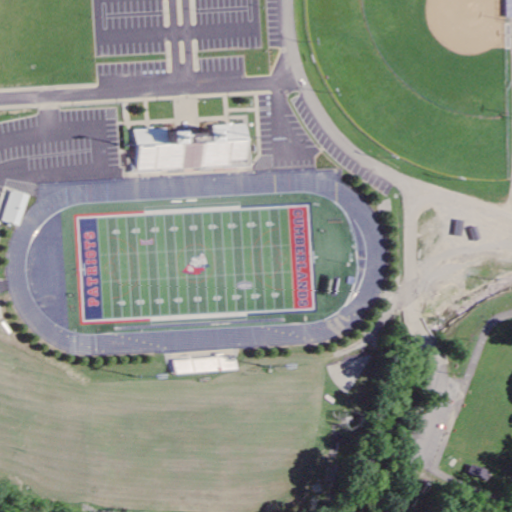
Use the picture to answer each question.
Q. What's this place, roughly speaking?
sports ground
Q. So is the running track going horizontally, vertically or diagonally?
horizontally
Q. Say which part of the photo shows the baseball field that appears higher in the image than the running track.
top right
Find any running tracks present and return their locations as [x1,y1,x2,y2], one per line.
[8,170,381,355]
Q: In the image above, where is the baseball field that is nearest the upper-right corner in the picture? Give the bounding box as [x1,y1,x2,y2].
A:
[307,0,512,180]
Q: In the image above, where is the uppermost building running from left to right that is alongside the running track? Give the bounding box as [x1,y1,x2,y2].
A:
[131,121,250,146]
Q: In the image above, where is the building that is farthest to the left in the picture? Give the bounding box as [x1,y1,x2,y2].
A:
[0,190,30,227]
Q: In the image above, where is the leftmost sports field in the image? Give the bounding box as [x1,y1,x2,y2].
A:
[61,193,366,332]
